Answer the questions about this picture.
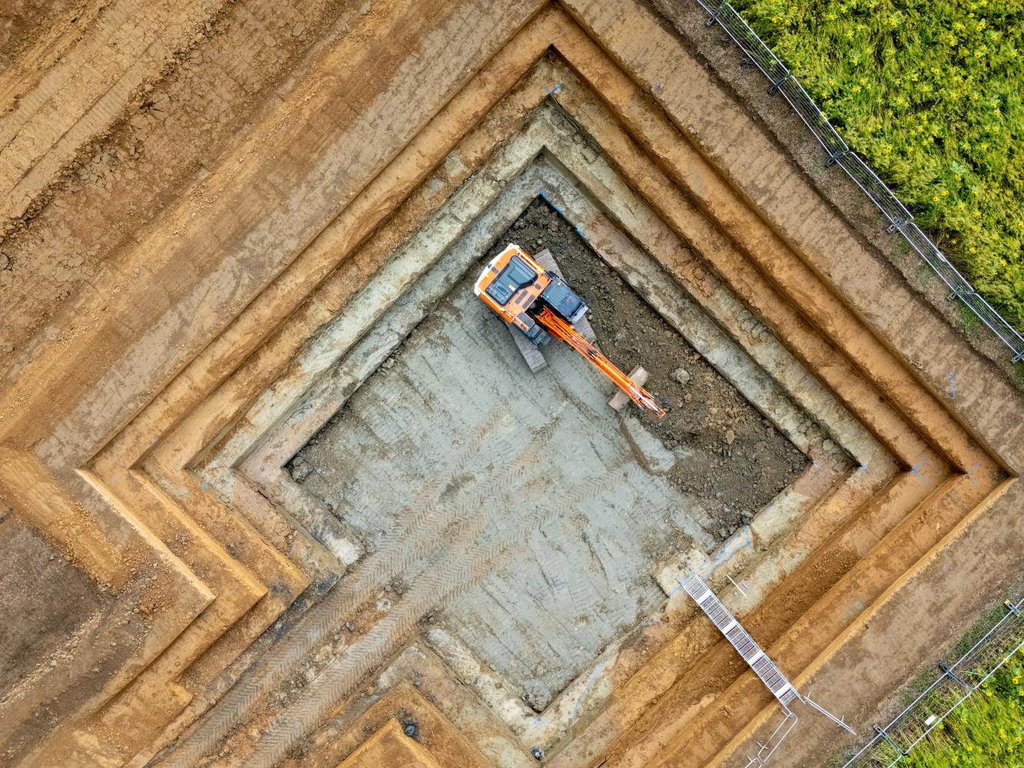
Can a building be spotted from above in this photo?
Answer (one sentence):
No, I can't see a single building in this photo.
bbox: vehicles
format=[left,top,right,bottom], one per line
[475,246,669,422]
